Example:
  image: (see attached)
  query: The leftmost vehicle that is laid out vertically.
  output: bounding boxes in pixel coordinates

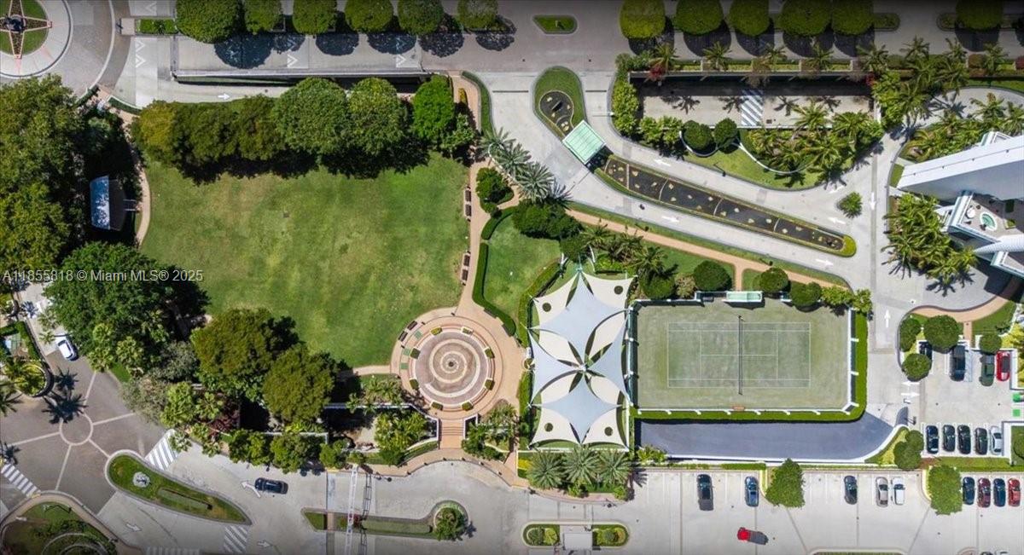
[697,475,712,511]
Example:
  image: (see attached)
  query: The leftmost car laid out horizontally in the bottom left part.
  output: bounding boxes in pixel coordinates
[256,478,286,494]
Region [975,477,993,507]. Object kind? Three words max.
car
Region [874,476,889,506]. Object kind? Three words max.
car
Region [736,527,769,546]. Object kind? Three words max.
vehicle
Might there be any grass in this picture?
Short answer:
Yes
